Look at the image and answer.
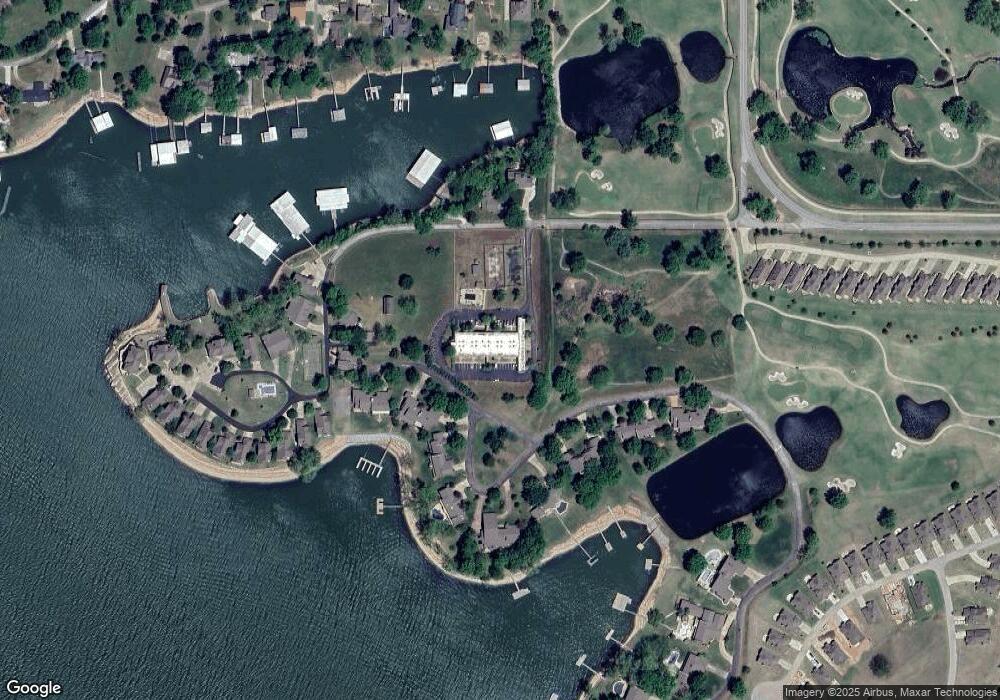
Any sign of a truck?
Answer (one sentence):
No, I find no truck anywhere in the image.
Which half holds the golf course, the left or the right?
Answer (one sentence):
You can find the golf course on the right side of the picture.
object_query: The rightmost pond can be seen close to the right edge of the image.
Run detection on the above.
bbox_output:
[896,395,950,439]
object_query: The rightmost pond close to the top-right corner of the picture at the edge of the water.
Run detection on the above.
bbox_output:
[783,27,917,139]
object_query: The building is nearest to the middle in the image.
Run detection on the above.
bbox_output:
[450,317,525,372]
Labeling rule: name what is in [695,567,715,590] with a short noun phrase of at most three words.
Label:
swimming pool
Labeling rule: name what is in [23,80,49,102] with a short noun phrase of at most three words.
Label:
house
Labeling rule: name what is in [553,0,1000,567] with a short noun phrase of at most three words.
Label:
golf course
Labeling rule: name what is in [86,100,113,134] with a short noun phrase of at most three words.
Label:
pier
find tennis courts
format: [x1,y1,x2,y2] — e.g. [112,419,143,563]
[304,345,322,381]
[484,245,503,286]
[504,245,522,285]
